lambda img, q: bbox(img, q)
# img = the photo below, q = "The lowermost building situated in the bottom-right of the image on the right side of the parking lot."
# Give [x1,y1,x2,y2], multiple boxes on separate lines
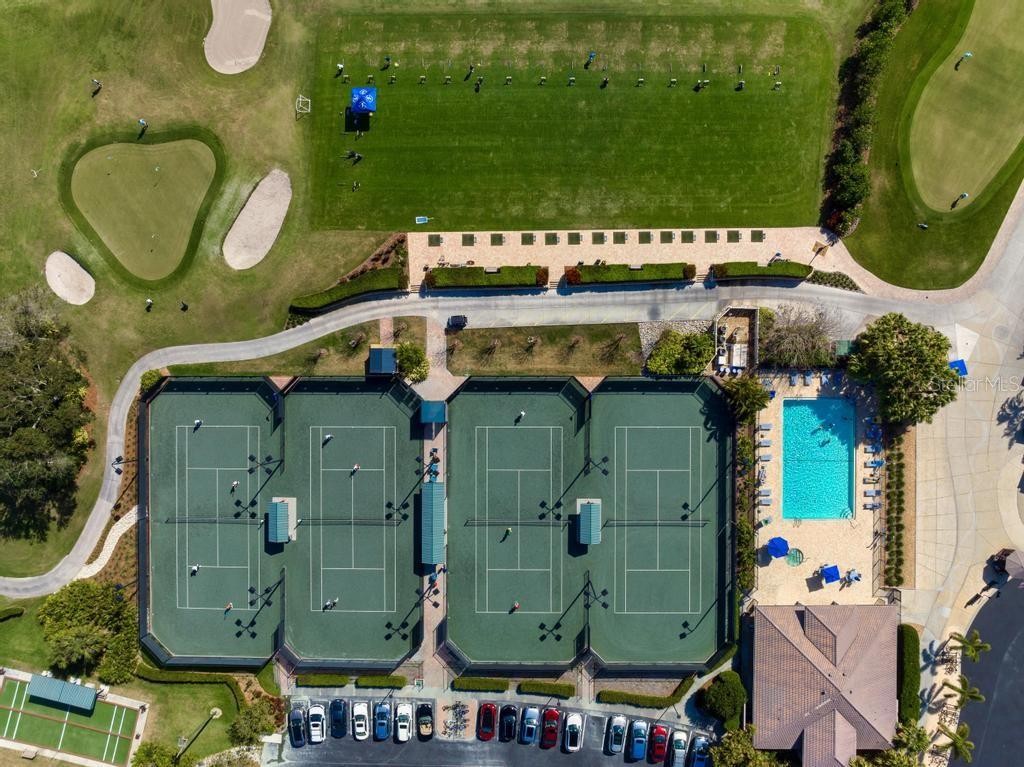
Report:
[753,605,896,767]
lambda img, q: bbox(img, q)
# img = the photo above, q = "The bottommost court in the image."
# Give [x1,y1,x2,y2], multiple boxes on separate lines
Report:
[0,667,149,767]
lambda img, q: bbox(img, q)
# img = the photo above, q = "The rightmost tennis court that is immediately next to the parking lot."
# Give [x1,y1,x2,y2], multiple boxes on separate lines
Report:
[588,378,728,663]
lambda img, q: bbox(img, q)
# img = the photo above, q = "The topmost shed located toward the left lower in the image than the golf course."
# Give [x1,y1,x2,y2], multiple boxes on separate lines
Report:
[370,347,397,373]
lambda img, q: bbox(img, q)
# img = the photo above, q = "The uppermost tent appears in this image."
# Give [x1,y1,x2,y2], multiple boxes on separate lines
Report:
[352,88,379,118]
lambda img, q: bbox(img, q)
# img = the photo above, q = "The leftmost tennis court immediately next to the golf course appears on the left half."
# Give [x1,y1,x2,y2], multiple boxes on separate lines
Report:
[149,378,283,657]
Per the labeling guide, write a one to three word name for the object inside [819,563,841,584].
umbrella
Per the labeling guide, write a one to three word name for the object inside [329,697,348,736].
car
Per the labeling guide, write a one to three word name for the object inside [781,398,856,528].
swimming pool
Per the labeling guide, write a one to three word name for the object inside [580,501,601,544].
building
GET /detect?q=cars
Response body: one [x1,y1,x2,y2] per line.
[396,701,413,741]
[522,704,540,743]
[479,700,496,739]
[307,702,326,741]
[542,707,559,746]
[609,711,627,751]
[669,727,689,767]
[565,711,583,752]
[416,703,433,739]
[288,707,308,747]
[500,702,517,740]
[374,700,391,739]
[630,718,649,758]
[352,700,369,739]
[329,697,348,736]
[650,722,668,761]
[691,731,710,767]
